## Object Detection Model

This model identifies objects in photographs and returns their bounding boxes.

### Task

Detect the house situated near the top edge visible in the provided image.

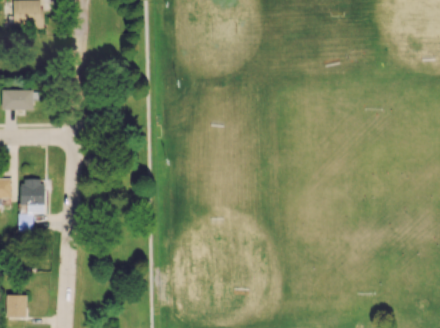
[12,0,44,29]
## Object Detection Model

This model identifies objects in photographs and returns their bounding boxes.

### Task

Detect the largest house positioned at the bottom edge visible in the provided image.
[6,295,27,317]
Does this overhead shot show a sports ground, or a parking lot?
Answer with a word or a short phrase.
sports ground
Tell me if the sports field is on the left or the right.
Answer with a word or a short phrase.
right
